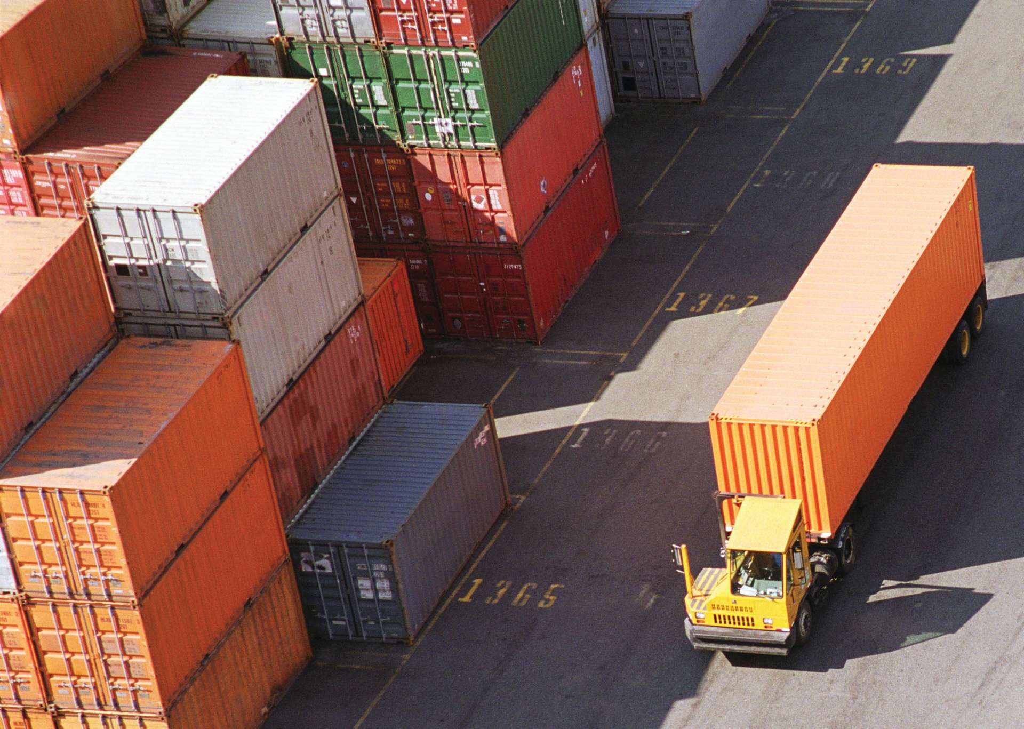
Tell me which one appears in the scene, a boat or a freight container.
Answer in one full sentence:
The one in the frame is a freight container.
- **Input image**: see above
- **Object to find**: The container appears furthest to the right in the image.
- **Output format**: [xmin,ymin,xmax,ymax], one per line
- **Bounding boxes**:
[708,163,985,537]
